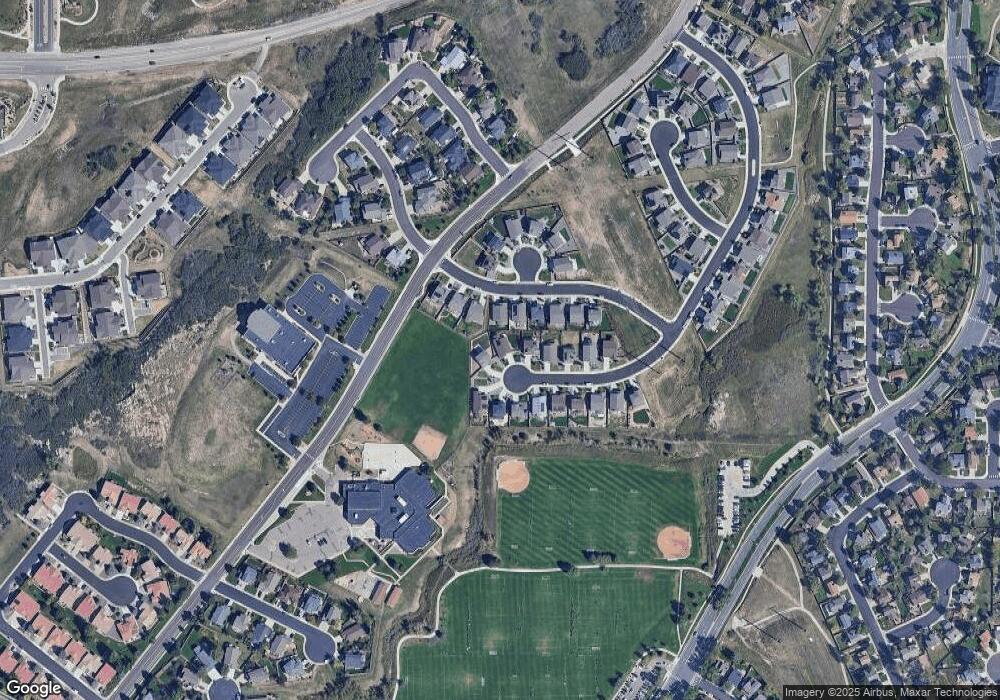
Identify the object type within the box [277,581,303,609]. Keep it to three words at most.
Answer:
house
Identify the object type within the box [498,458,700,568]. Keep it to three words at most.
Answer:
sports field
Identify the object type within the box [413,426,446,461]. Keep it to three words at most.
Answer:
baseball field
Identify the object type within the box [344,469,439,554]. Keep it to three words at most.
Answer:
building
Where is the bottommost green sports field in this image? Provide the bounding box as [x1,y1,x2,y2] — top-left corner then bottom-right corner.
[399,568,676,700]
